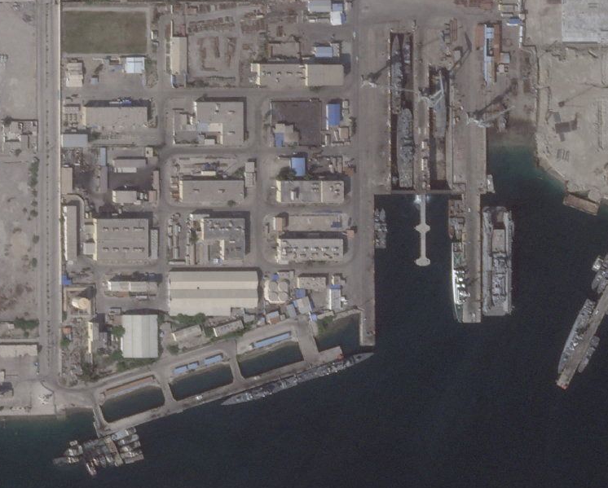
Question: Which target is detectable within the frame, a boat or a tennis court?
boat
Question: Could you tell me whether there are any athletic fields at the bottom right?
No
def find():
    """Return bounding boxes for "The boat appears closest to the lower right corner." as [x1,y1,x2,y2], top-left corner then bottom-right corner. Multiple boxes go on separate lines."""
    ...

[579,336,599,372]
